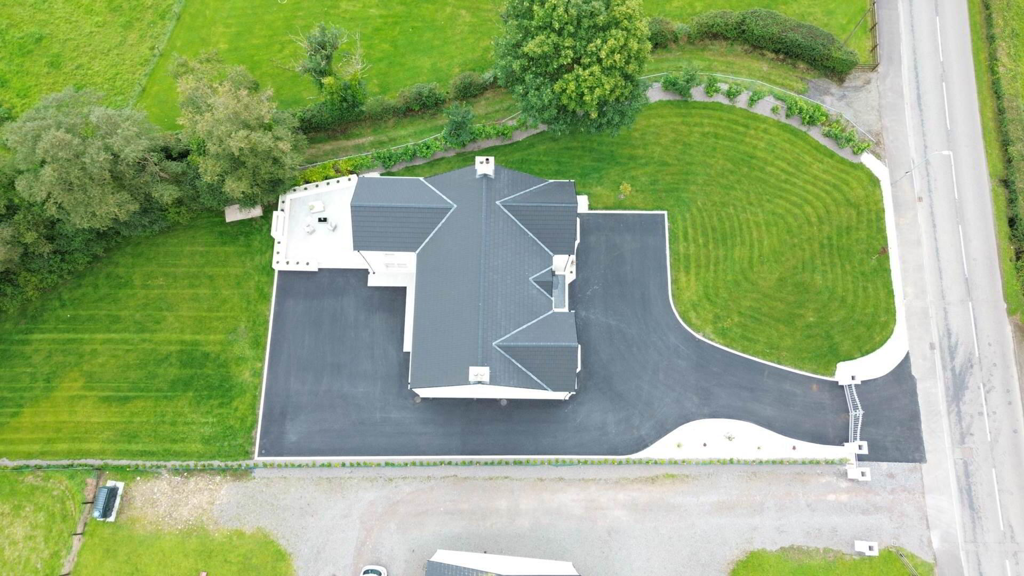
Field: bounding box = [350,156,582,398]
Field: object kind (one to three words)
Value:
house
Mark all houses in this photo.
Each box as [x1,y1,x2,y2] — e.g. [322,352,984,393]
[423,551,582,576]
[350,156,582,398]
